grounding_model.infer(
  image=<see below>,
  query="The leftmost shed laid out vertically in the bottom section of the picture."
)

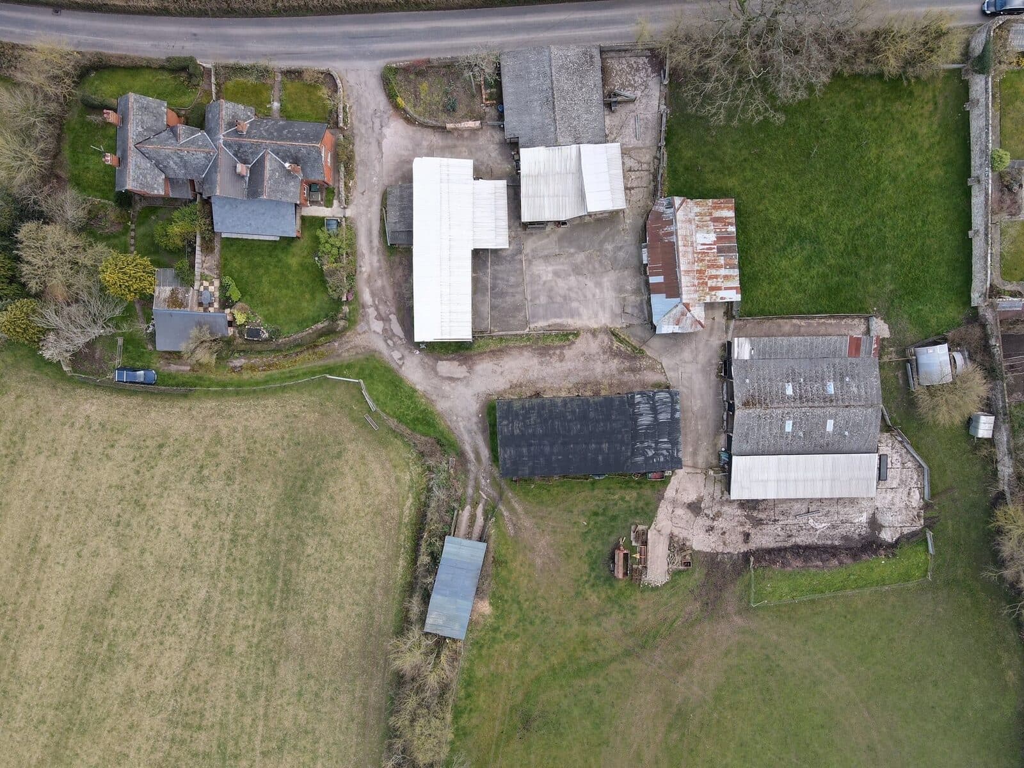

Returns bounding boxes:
[424,532,487,640]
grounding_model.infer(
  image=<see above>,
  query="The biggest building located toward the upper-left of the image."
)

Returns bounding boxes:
[83,91,338,244]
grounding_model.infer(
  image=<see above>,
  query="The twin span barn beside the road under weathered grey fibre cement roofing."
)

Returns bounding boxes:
[500,44,606,157]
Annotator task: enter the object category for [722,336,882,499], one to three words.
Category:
building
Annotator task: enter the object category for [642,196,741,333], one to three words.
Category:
barn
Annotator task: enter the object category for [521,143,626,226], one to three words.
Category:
building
